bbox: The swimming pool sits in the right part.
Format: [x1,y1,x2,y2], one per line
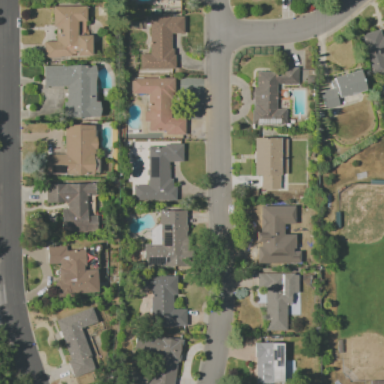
[293,89,308,116]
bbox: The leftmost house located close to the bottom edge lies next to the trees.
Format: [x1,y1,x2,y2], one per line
[58,308,100,377]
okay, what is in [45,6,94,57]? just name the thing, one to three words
house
